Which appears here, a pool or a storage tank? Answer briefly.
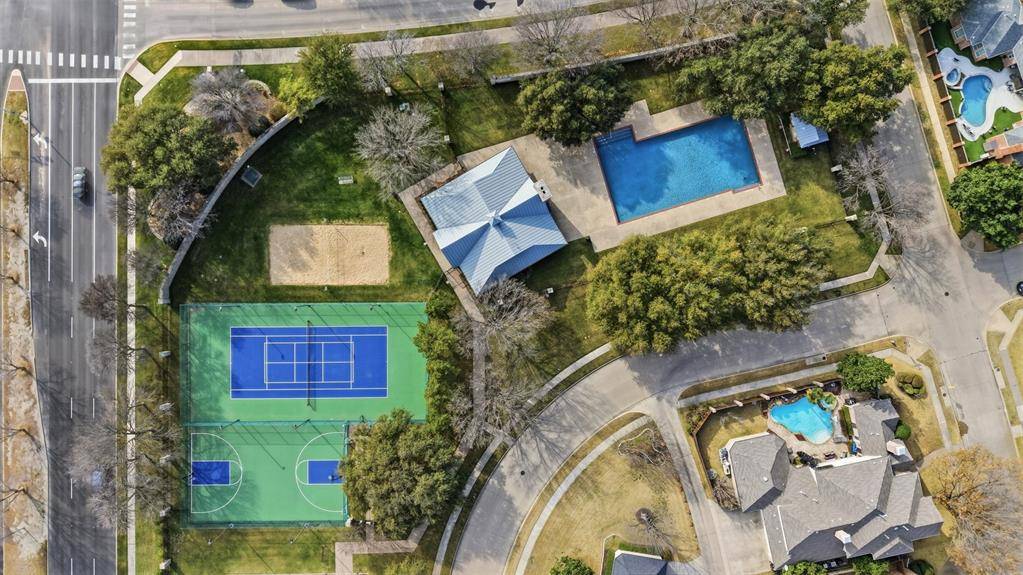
pool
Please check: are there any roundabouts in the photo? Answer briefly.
No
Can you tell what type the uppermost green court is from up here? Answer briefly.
tennis court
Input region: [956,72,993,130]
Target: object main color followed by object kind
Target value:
blue swimming pool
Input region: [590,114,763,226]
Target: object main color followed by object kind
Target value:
blue swimming pool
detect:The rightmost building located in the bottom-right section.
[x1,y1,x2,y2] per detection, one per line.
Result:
[725,399,943,567]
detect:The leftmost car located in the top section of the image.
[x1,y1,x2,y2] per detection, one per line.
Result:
[70,167,88,198]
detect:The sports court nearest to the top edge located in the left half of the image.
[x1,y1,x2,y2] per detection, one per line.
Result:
[269,224,390,286]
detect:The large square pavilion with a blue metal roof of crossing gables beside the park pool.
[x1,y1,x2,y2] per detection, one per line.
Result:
[421,148,568,296]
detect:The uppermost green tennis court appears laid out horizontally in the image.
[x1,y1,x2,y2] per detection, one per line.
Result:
[182,303,428,420]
